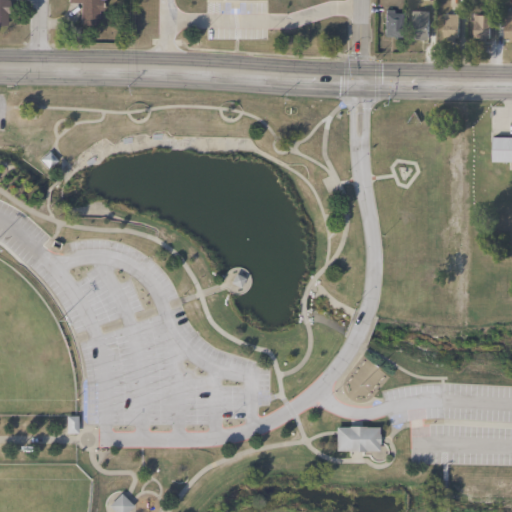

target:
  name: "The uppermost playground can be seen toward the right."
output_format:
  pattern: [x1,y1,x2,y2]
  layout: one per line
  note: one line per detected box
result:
[344,358,389,402]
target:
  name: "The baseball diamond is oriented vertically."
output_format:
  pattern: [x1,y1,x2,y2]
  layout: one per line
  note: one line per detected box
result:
[0,259,77,416]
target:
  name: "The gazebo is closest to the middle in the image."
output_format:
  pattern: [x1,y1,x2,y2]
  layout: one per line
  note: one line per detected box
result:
[232,272,248,288]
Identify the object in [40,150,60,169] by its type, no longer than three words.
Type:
gazebo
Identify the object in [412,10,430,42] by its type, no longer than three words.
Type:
house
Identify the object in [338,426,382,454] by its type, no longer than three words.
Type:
building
